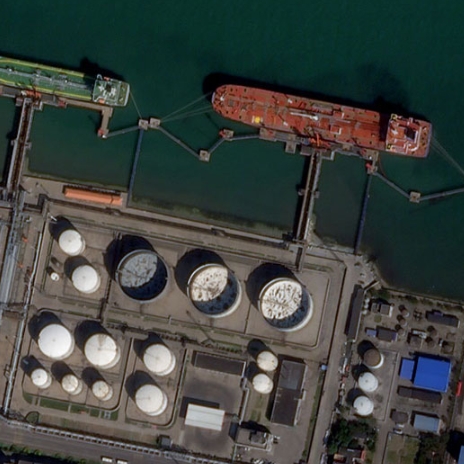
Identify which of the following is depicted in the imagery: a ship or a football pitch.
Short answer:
ship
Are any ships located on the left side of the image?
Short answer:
Yes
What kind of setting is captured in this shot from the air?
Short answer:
industrial area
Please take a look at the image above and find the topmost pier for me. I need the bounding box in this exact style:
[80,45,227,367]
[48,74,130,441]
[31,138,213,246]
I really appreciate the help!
[0,86,113,135]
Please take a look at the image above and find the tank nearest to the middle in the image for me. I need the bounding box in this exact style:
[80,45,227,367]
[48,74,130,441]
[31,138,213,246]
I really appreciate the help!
[187,263,242,317]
